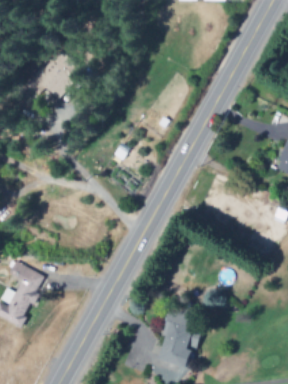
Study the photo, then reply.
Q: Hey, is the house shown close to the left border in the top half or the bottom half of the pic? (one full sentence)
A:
The house shown close to the left border is in the bottom half of the image.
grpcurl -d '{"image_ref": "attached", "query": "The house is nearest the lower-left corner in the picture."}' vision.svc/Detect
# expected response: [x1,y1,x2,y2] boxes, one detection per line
[0,262,46,326]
